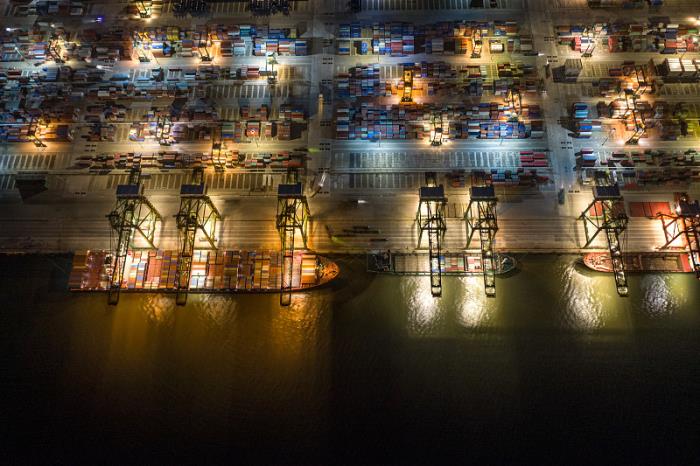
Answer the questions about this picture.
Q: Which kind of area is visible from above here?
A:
port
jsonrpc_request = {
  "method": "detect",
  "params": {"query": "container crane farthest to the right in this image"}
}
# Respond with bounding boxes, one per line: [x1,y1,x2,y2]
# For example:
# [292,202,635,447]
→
[653,168,700,286]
